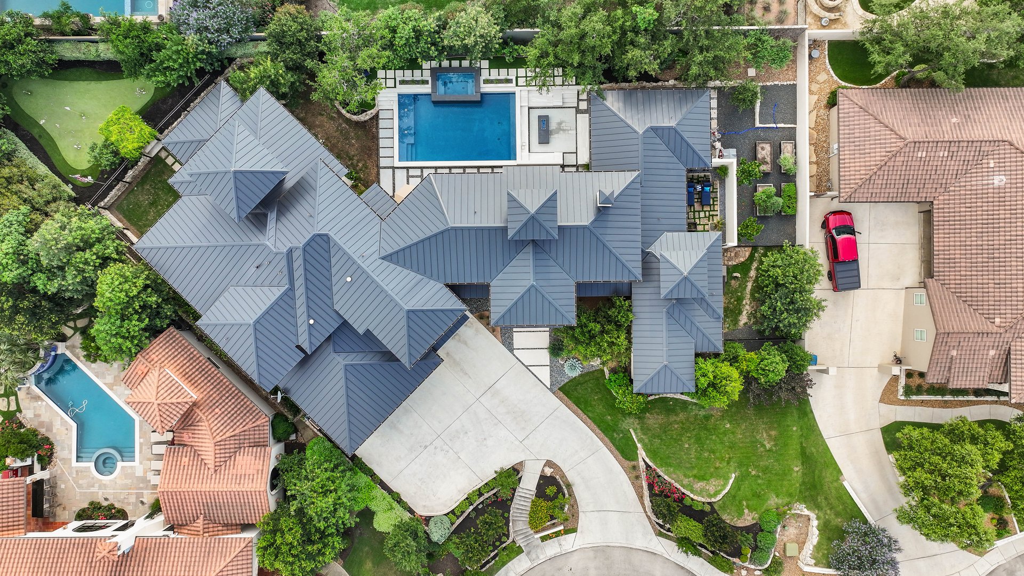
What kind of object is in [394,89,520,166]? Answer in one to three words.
swimming pool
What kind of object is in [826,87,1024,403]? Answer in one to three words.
house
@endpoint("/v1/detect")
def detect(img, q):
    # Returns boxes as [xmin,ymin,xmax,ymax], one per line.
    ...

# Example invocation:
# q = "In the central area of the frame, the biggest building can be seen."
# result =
[132,78,725,456]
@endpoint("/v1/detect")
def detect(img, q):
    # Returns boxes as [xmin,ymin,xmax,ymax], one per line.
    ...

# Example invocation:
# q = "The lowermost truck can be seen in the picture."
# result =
[819,210,860,293]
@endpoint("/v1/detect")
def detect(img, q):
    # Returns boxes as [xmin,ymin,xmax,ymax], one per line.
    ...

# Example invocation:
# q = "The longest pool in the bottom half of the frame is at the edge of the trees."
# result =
[22,341,139,466]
